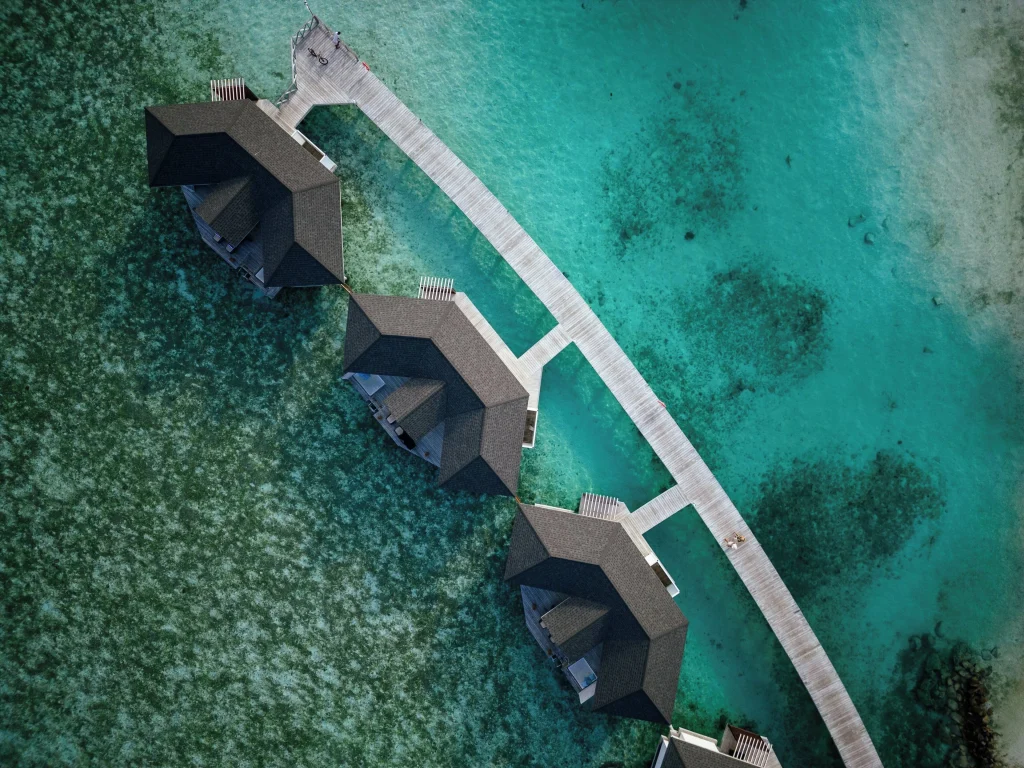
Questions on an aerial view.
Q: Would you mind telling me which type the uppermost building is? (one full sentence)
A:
What you see as the uppermost building is a home.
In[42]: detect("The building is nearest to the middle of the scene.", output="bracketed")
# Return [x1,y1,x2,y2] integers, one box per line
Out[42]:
[340,275,541,498]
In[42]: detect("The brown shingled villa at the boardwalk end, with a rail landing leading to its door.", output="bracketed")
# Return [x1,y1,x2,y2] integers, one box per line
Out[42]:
[144,80,346,301]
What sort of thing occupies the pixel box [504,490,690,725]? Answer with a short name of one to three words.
house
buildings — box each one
[648,720,781,768]
[504,490,690,725]
[340,275,541,498]
[144,80,346,301]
